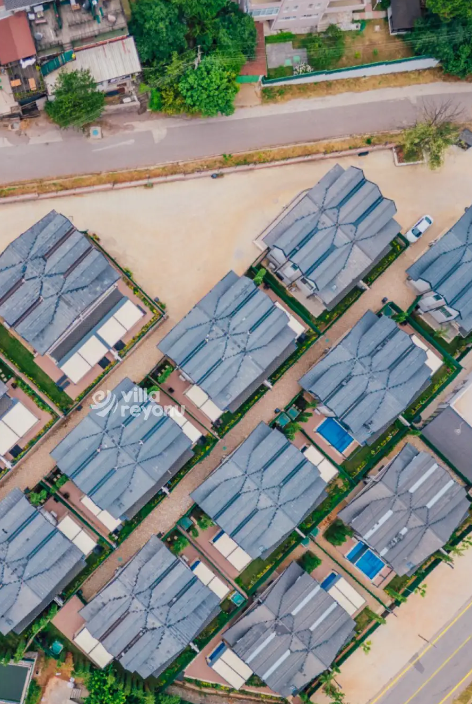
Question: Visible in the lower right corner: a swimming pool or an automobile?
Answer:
swimming pool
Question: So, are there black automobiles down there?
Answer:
No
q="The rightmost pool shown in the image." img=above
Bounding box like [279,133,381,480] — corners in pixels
[345,540,387,582]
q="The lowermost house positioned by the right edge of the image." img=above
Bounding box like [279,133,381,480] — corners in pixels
[339,444,470,579]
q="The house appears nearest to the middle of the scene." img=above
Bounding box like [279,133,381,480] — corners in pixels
[159,272,296,412]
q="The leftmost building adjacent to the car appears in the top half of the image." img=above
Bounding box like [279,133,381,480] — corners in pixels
[264,165,403,307]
